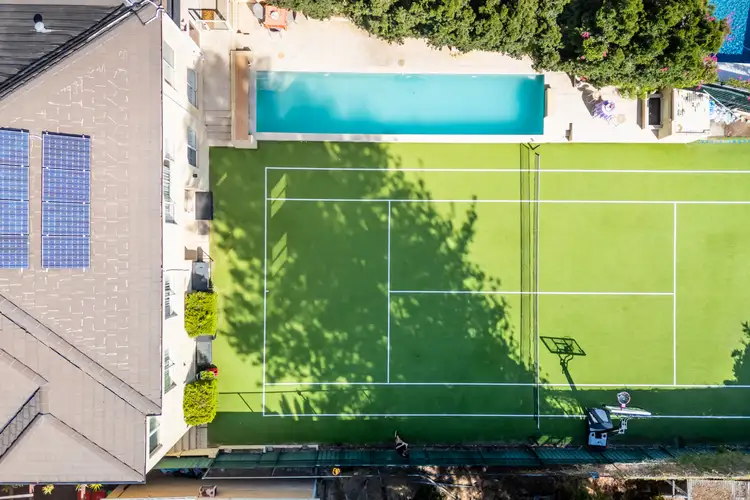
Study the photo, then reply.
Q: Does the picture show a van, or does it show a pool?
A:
pool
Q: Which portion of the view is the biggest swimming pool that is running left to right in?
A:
top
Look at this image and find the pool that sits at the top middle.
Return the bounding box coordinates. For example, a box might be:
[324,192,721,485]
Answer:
[250,72,544,139]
